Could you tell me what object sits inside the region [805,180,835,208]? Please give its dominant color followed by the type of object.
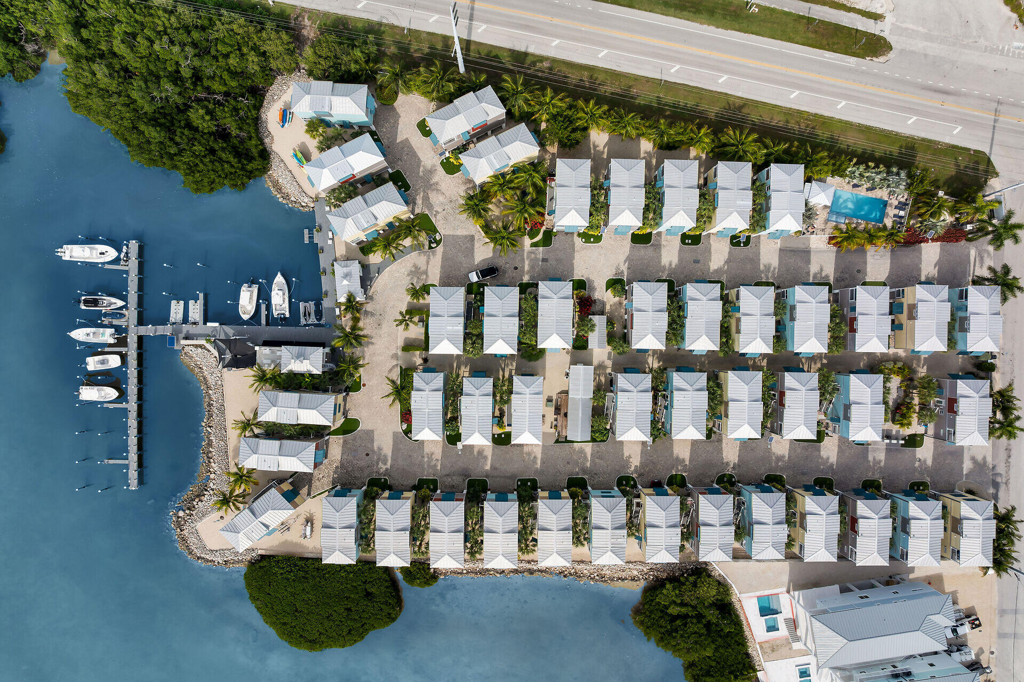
white gazebo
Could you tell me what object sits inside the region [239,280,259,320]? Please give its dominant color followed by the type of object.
white boat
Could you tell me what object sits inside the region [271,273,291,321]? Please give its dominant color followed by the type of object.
white boat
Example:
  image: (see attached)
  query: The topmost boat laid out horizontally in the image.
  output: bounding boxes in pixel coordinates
[60,246,120,263]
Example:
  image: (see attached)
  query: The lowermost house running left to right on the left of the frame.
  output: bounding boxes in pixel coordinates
[237,433,328,473]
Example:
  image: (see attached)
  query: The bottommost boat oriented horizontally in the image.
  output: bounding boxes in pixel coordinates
[77,386,122,401]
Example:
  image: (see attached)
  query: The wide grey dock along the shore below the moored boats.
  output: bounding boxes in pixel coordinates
[174,326,342,349]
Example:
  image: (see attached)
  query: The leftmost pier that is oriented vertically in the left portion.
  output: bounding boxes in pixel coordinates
[128,241,143,489]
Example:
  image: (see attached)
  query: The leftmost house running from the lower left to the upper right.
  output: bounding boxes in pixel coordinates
[220,478,308,553]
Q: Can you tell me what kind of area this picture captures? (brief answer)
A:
residential area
